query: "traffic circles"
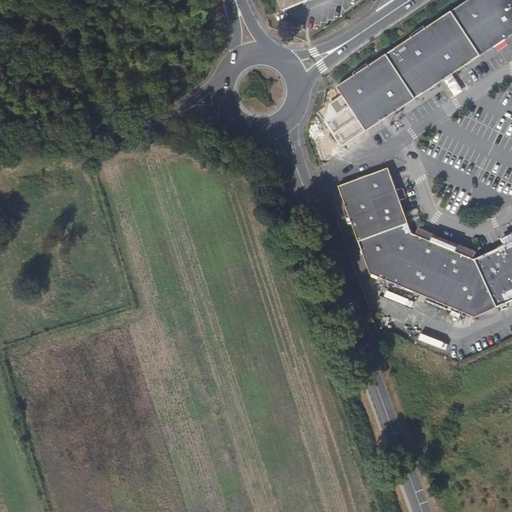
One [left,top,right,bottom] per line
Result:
[212,41,310,140]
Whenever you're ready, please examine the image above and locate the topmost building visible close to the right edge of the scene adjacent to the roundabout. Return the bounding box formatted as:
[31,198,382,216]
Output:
[338,0,512,128]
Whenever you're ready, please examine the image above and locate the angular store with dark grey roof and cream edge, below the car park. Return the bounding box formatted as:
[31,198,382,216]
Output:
[338,168,512,318]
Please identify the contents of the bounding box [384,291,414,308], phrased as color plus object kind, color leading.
white vehicle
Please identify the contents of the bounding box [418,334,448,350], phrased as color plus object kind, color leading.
white vehicle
